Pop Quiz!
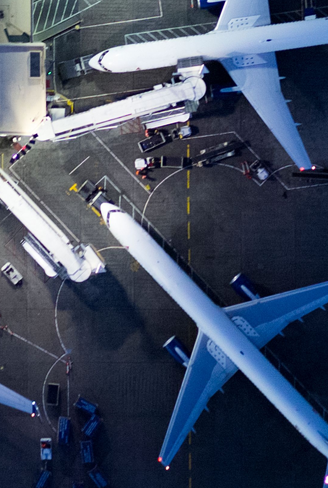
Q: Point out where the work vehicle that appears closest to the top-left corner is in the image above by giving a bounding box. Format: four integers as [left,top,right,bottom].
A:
[57,52,98,84]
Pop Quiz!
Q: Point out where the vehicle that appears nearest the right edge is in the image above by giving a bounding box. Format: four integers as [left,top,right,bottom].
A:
[293,167,328,183]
